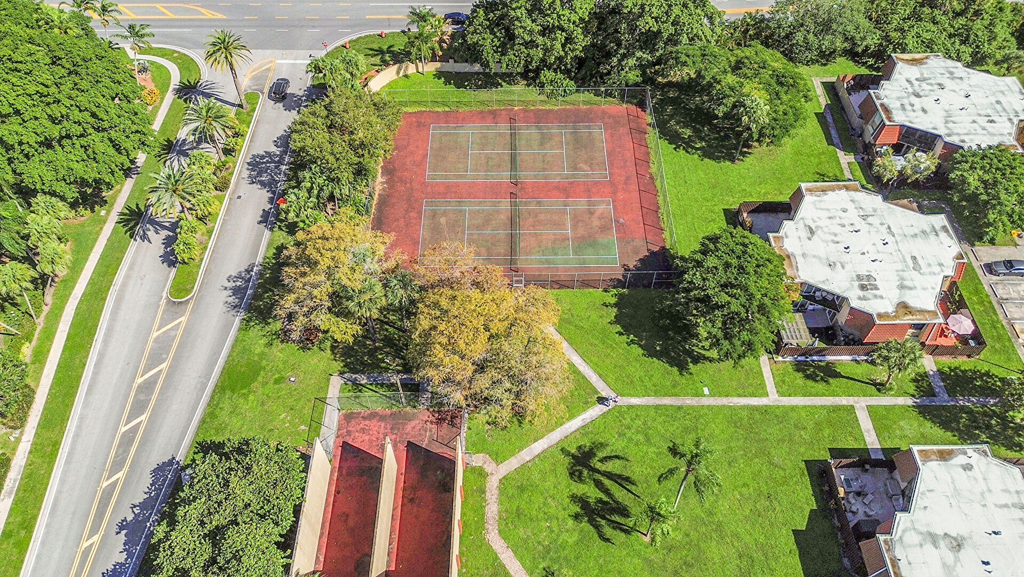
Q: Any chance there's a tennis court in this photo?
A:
Yes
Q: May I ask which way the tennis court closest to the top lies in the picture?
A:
from left to right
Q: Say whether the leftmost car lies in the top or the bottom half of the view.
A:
top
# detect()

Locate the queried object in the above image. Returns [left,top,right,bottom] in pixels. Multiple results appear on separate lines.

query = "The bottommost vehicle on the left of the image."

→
[272,75,292,98]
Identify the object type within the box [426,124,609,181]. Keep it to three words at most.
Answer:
tennis court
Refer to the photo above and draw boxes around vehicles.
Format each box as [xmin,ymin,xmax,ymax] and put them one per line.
[272,75,292,98]
[987,258,1024,276]
[444,14,472,27]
